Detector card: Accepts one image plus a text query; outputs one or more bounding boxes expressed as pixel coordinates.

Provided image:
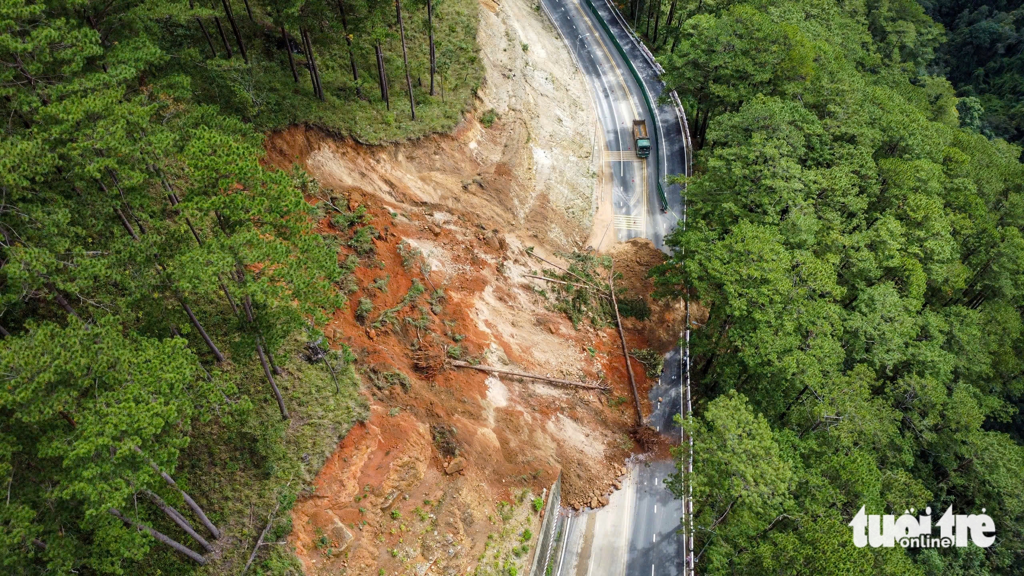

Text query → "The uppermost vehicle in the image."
[635,117,654,152]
